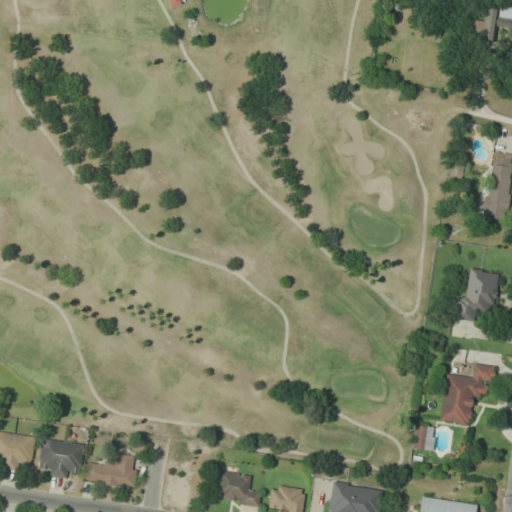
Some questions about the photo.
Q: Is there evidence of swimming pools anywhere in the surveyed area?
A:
Yes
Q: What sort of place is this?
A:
golf course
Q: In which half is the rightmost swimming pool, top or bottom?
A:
top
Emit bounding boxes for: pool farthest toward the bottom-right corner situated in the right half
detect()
[436,426,454,458]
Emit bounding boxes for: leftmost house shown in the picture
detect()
[0,432,36,471]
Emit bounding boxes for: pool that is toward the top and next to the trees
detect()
[472,134,492,166]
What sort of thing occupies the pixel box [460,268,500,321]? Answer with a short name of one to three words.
house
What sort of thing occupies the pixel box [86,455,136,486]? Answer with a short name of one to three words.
house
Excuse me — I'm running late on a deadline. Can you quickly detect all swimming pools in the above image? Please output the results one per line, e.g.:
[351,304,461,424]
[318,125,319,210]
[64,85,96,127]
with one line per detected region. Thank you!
[436,426,454,458]
[472,134,492,166]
